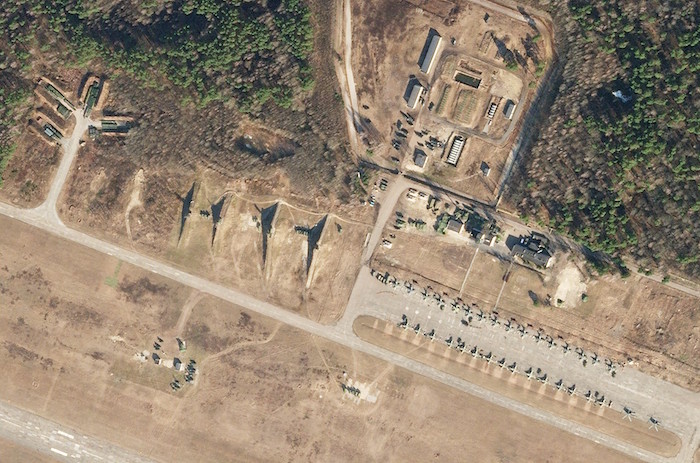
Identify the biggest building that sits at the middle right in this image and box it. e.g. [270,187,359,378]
[511,244,552,265]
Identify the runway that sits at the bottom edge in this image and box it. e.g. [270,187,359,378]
[0,402,157,463]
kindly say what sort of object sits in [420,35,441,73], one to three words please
building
